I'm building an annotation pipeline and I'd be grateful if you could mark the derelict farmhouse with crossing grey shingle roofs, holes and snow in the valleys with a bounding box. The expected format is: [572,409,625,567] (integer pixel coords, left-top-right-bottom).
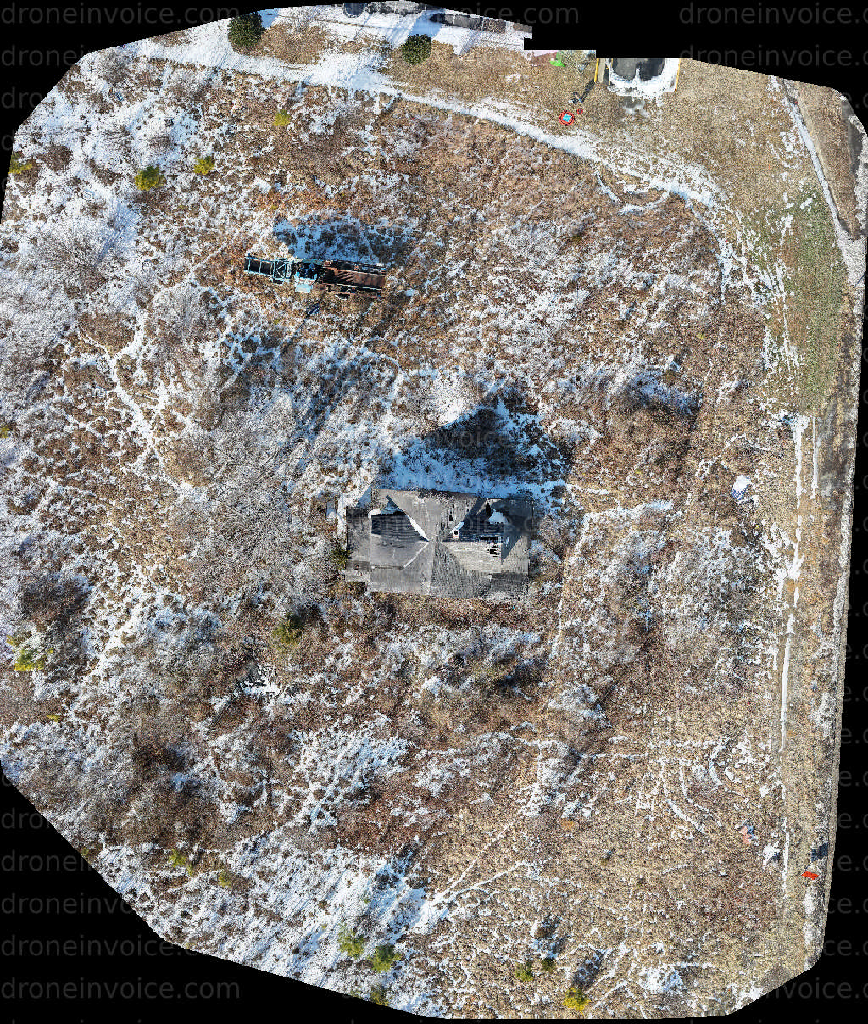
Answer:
[344,488,533,601]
